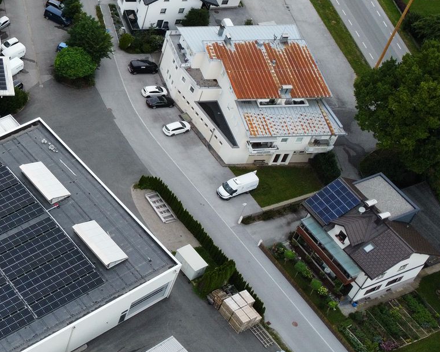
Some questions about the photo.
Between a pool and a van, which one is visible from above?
van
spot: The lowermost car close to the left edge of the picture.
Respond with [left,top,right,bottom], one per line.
[13,76,30,89]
